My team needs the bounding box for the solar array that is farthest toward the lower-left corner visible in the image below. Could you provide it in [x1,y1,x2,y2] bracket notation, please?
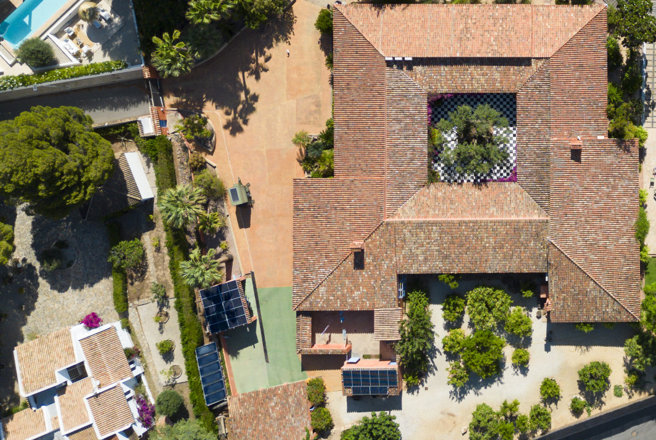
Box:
[196,340,233,404]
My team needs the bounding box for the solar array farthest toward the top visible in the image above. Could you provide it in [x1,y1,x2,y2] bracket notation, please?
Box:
[200,281,247,333]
